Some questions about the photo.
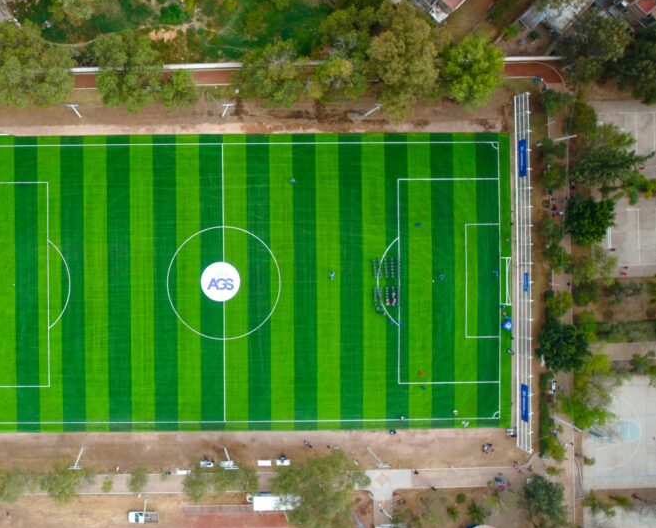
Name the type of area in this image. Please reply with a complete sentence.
It's a sports ground.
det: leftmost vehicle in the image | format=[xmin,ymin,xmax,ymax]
[128,512,158,527]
